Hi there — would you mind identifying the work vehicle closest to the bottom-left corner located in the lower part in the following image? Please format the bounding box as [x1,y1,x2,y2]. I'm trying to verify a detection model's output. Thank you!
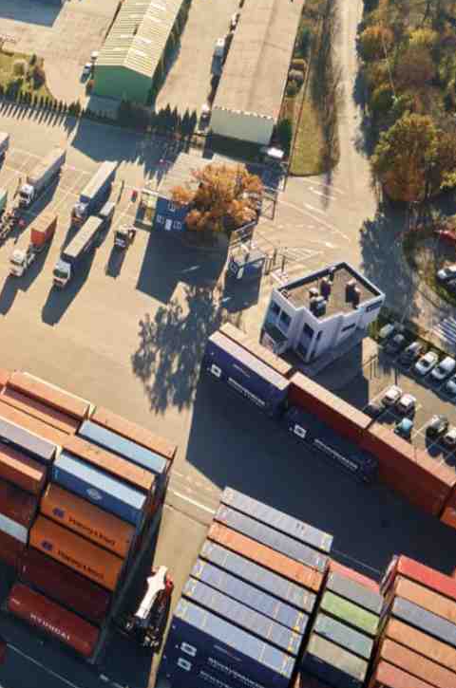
[106,563,190,649]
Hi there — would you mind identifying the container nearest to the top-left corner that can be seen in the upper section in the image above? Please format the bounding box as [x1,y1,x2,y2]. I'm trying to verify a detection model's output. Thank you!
[29,210,59,245]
